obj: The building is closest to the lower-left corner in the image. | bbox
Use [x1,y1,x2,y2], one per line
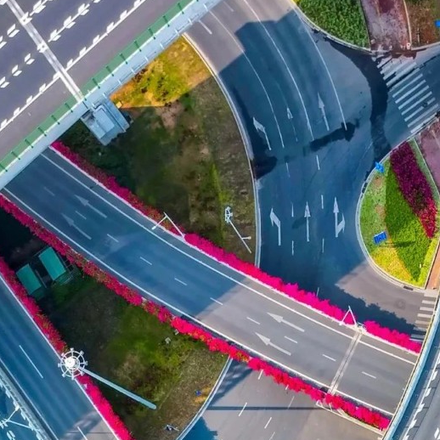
[18,263,47,298]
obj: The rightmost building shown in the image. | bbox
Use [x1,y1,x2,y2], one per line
[38,245,72,284]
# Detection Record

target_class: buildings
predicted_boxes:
[38,245,72,284]
[18,263,47,298]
